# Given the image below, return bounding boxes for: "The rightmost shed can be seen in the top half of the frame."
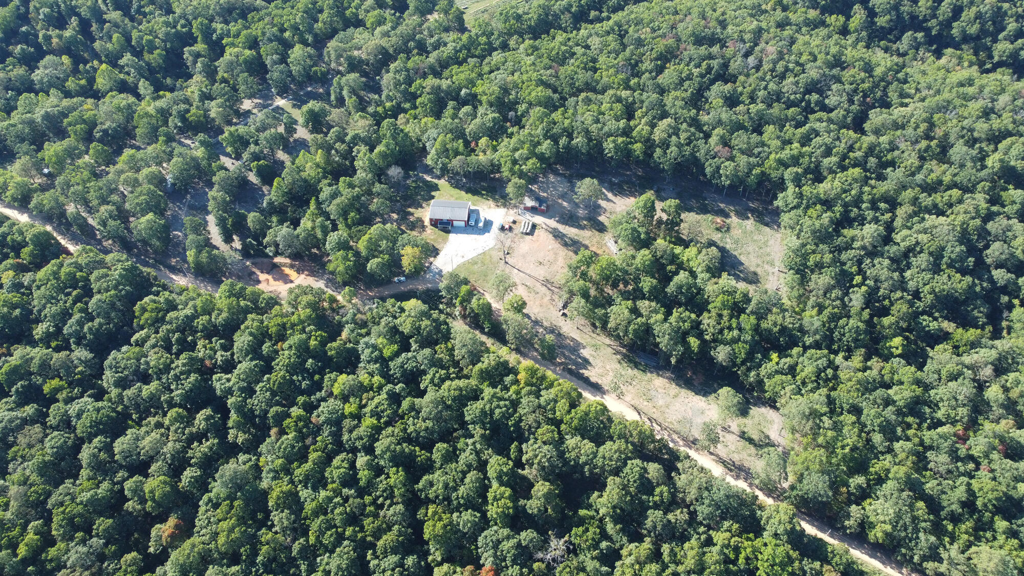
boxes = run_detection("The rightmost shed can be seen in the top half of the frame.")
[523,195,549,213]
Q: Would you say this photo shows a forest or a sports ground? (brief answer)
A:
forest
